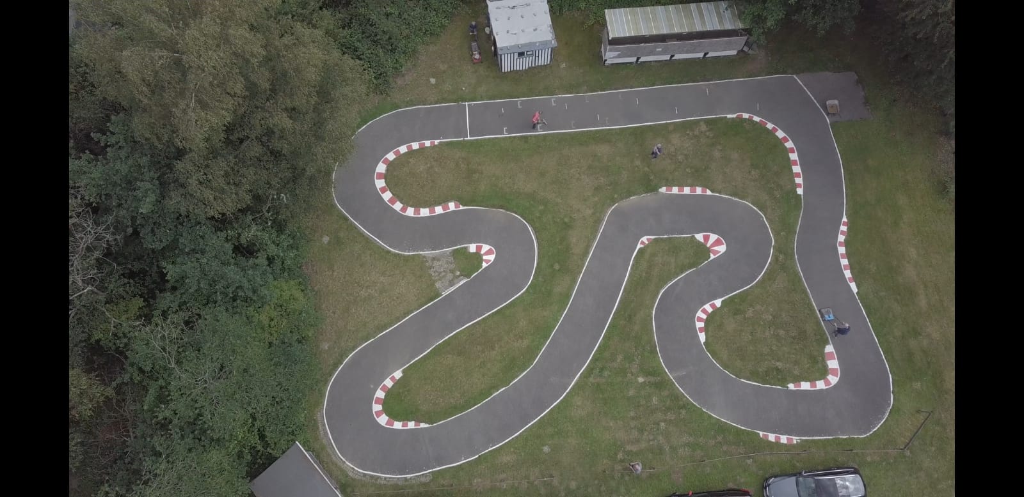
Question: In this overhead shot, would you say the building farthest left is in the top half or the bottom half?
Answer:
bottom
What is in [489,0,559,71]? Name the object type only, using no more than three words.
shed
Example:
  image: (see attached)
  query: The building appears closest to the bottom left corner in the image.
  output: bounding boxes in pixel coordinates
[248,441,351,497]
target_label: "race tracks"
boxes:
[323,73,894,479]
